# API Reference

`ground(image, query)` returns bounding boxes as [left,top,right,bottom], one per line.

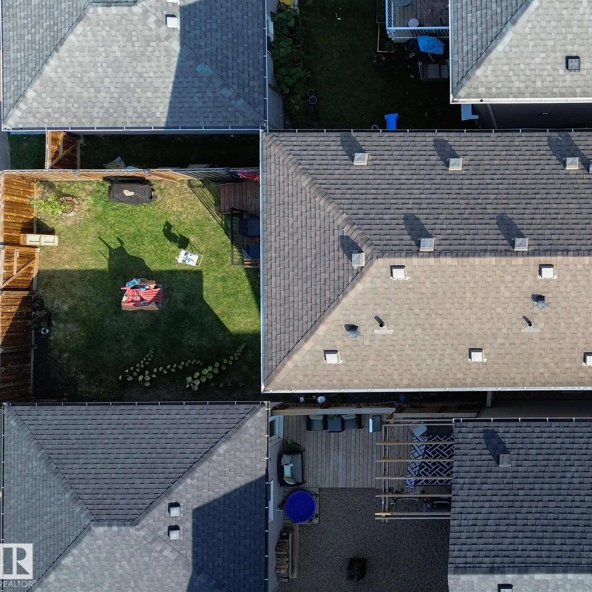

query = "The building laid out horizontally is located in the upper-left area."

[2,0,285,134]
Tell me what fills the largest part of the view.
buildings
